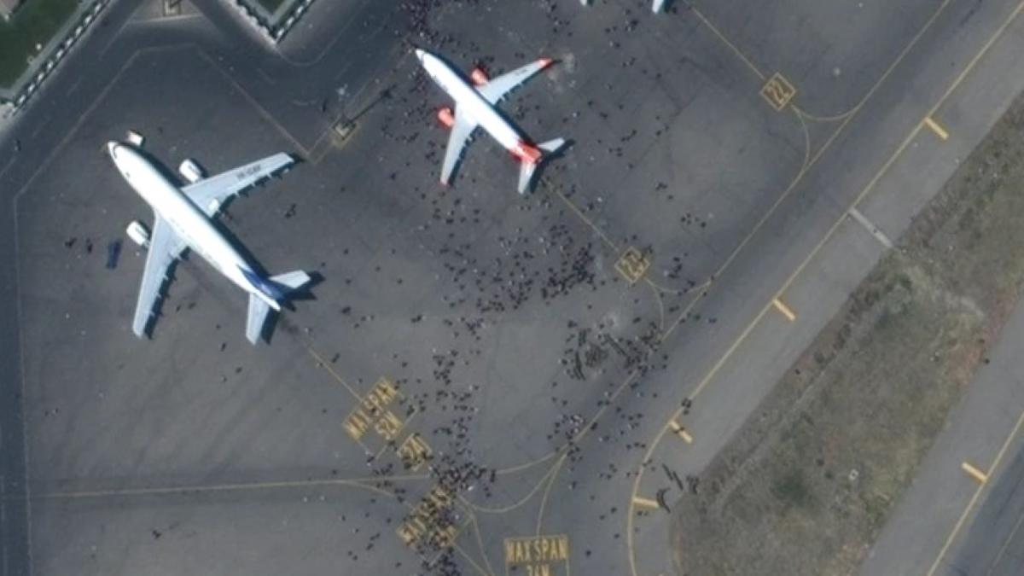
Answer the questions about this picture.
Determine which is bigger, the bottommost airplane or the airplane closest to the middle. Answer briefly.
the bottommost airplane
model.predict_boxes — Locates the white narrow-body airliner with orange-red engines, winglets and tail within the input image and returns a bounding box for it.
[416,48,567,195]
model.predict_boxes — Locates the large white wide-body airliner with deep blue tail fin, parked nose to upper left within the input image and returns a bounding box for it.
[107,142,310,344]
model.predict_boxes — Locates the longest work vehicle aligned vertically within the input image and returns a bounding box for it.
[103,236,120,269]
